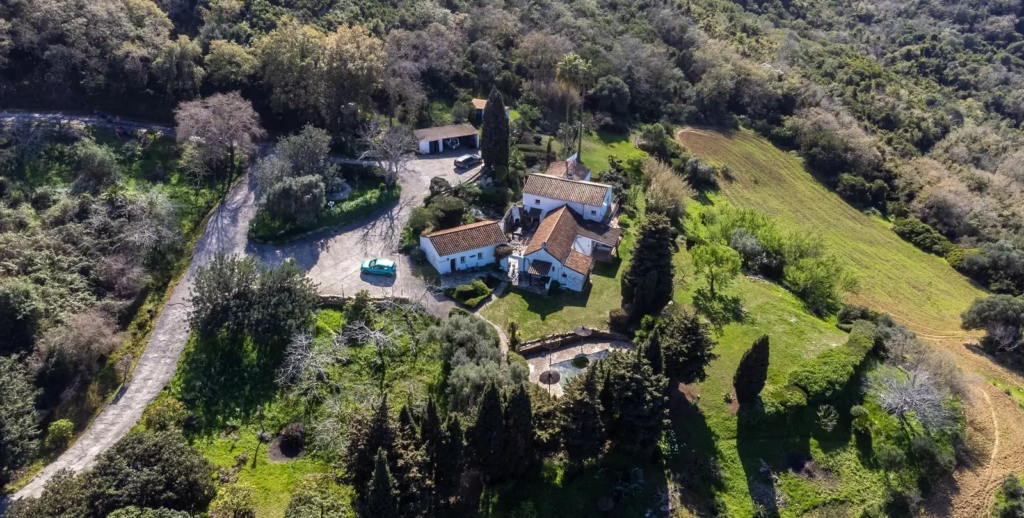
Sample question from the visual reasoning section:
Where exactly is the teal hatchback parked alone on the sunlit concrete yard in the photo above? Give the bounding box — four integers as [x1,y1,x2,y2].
[360,256,398,275]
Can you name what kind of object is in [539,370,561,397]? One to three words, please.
umbrella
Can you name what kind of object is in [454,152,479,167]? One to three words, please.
car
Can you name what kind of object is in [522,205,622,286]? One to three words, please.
house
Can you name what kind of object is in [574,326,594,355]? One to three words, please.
umbrella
